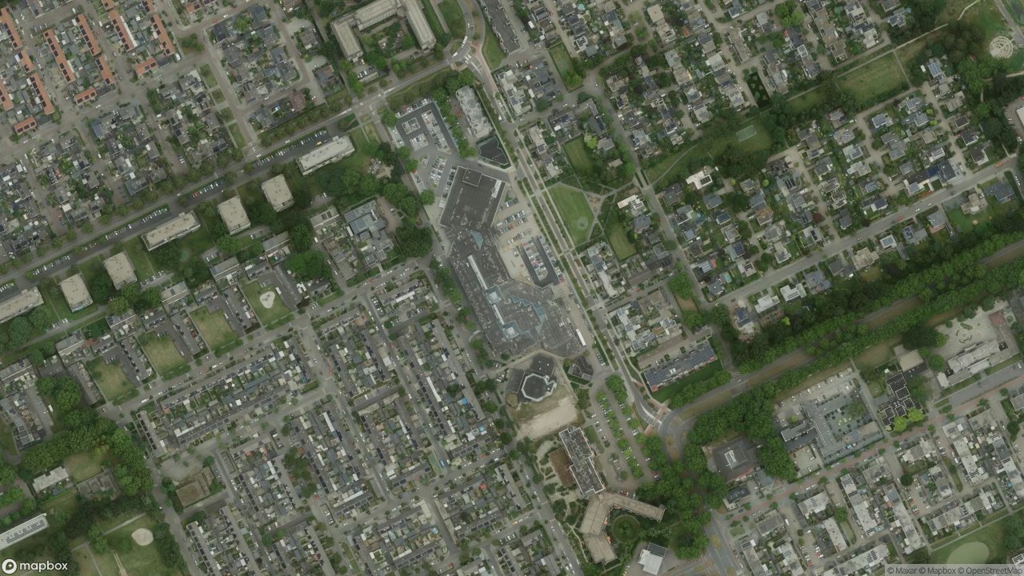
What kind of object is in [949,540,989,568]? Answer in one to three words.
sports field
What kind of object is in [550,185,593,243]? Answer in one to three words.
sports field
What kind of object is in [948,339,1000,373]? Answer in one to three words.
building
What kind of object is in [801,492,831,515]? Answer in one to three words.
house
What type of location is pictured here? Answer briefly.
residential area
